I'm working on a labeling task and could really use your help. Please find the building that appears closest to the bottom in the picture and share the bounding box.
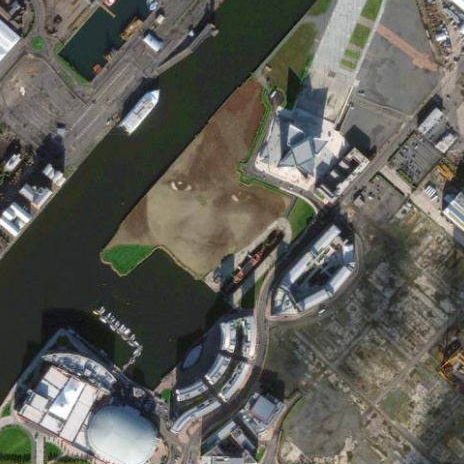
[200,420,257,464]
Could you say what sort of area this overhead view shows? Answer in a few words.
port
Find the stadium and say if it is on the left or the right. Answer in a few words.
left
